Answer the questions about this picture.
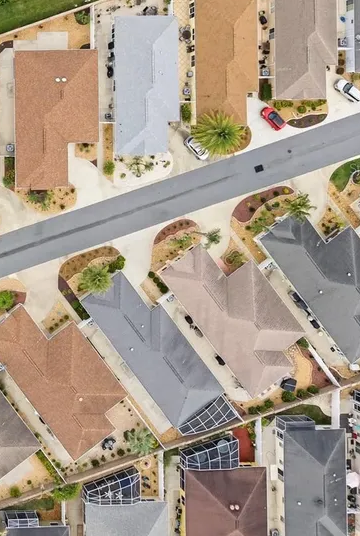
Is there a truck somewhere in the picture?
No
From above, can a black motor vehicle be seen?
No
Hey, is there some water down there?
No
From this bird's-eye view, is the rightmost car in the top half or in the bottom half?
top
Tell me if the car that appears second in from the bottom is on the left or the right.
right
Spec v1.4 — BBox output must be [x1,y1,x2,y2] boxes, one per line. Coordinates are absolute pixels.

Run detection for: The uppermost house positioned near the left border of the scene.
[14,49,99,188]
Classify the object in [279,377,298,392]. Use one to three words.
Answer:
umbrella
